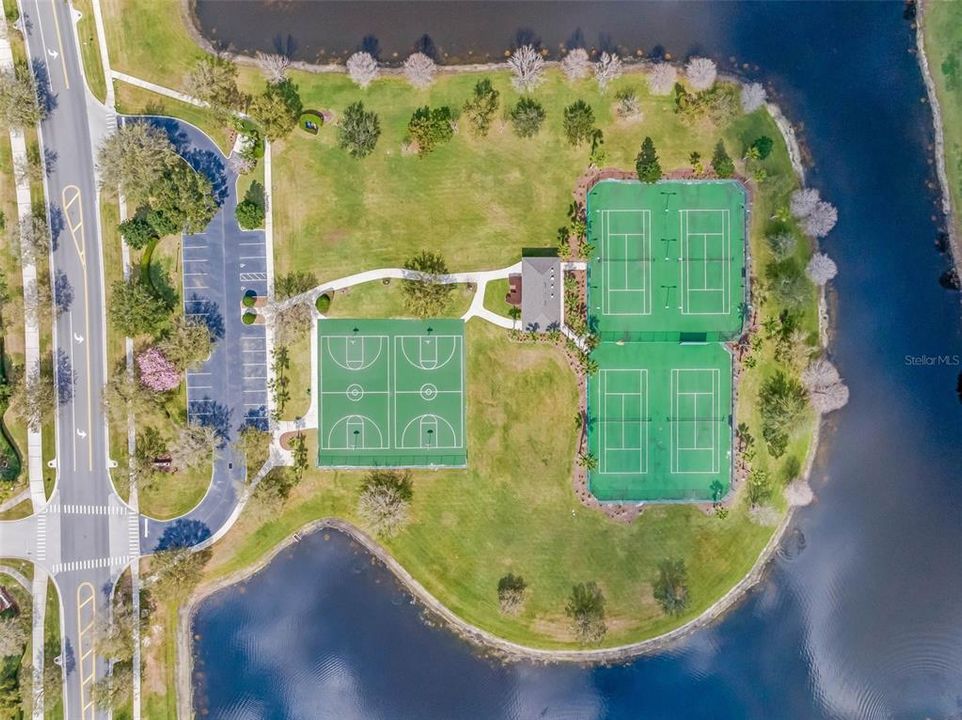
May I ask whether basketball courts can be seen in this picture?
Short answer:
Yes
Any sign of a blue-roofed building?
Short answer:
No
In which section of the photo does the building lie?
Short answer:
center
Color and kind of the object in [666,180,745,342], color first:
green tennis court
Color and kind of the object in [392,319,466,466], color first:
green basketball court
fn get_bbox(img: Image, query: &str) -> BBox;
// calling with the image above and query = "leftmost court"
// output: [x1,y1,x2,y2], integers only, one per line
[318,319,392,466]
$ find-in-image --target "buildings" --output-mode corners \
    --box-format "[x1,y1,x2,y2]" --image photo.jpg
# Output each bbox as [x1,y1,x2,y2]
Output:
[522,257,561,332]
